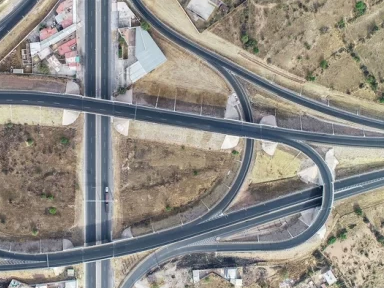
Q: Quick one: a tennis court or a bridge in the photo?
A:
bridge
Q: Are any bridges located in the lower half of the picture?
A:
Yes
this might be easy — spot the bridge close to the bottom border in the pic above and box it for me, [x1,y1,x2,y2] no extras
[53,228,132,276]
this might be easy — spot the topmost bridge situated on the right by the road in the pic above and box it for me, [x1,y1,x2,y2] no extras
[222,94,277,155]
